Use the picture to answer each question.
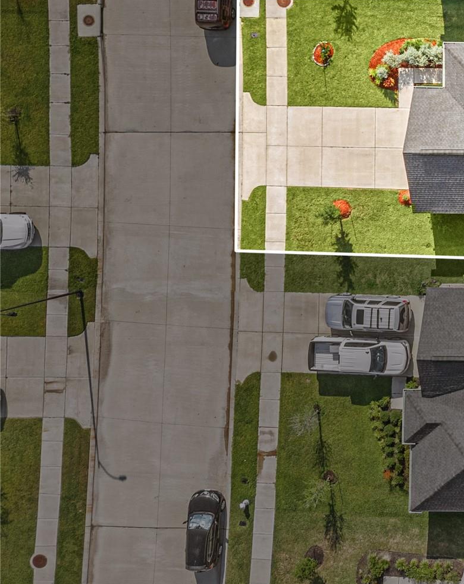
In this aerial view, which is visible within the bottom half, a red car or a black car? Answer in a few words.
black car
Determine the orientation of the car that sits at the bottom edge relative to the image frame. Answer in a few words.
from top to bottom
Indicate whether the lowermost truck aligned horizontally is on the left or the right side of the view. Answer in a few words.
right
